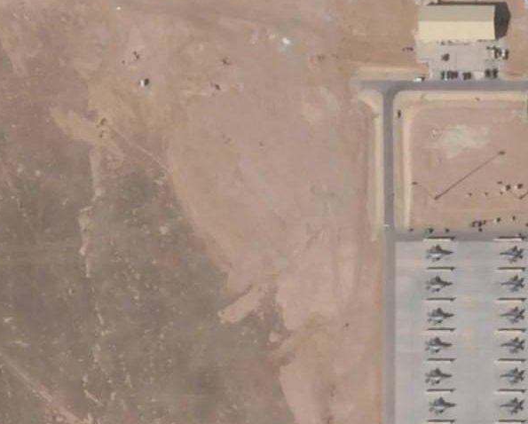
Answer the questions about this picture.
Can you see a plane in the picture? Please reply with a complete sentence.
Yes, you can see a plane in this photo.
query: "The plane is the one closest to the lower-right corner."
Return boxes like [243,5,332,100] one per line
[500,398,521,415]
